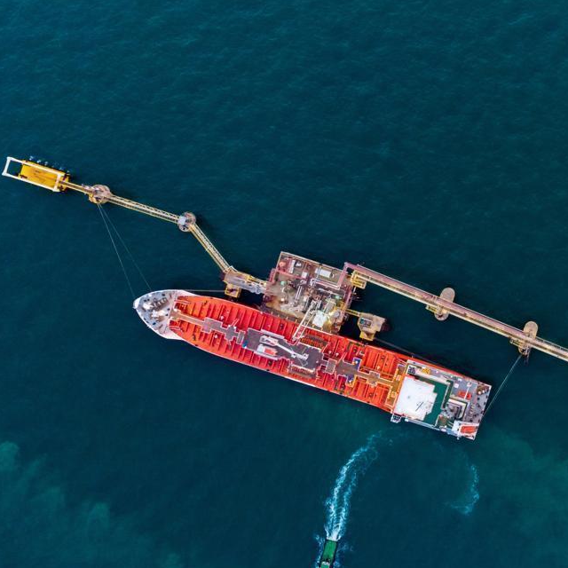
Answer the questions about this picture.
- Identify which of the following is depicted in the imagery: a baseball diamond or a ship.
ship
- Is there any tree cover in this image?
No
